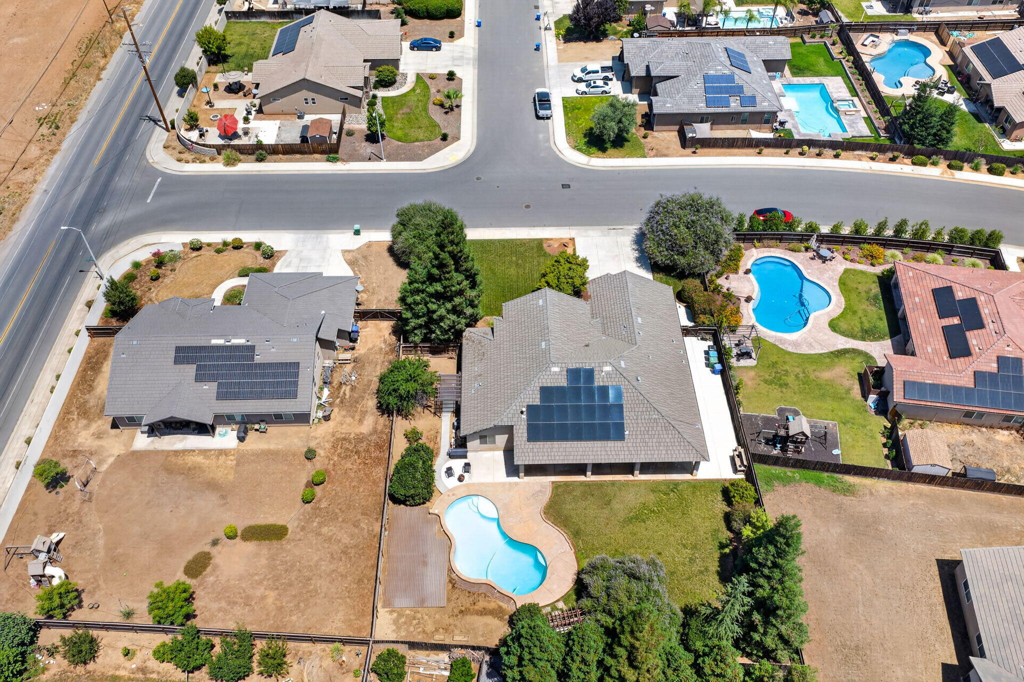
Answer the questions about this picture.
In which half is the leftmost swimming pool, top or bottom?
bottom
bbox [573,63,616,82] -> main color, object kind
white vehicle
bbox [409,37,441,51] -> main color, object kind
blue car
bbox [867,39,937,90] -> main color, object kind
blue swimming pool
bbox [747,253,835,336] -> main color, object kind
blue swimming pool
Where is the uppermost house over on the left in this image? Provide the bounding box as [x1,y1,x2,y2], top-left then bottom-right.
[252,9,405,114]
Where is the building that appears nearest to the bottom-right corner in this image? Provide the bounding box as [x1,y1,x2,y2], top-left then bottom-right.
[954,544,1024,682]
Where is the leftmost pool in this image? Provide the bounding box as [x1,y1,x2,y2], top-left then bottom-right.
[441,491,551,599]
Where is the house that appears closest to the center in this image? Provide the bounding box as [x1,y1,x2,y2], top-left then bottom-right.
[458,270,710,478]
